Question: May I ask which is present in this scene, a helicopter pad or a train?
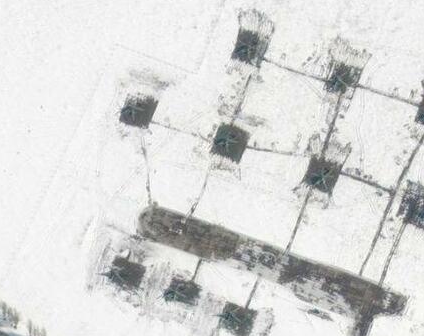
helicopter pad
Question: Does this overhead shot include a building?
No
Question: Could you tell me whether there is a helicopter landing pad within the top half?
Yes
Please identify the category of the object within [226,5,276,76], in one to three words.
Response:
helipad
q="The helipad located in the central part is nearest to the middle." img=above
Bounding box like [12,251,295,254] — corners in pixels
[209,125,251,175]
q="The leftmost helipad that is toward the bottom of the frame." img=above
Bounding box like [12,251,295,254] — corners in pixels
[109,254,148,288]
